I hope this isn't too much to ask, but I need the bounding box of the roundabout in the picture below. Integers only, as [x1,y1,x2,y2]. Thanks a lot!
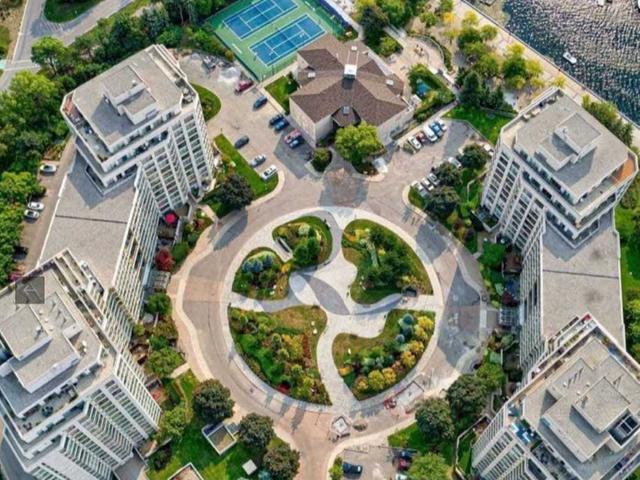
[219,206,445,413]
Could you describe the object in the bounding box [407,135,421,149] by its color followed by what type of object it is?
white vehicle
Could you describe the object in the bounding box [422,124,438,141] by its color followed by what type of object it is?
white vehicle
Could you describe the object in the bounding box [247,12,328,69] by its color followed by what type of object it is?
blue tennis court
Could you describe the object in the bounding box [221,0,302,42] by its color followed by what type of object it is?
blue tennis court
